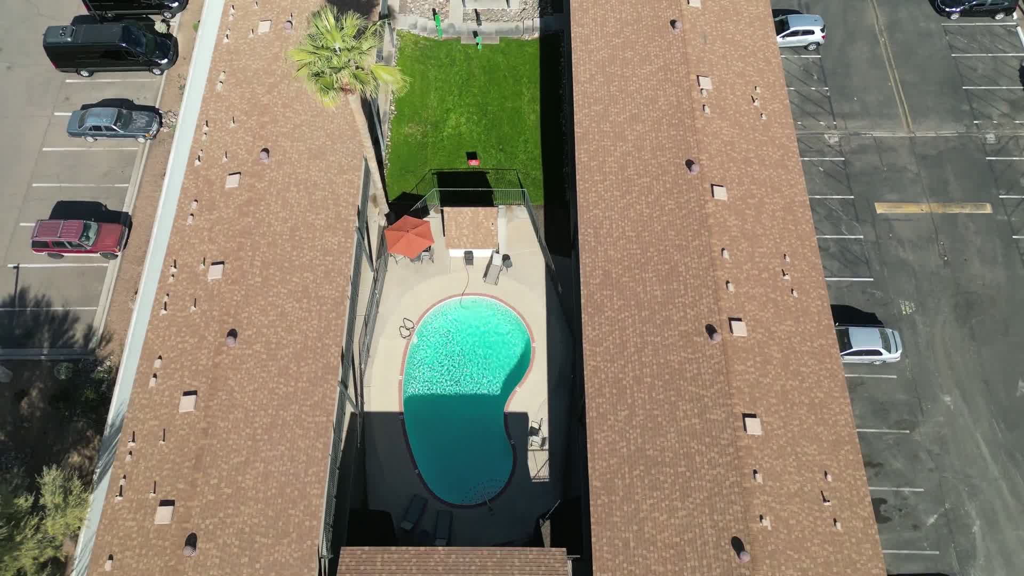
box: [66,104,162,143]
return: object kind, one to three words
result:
car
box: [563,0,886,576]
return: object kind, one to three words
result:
building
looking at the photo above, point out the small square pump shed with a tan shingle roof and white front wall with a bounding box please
[441,206,497,257]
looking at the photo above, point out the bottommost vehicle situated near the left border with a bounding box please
[26,216,128,259]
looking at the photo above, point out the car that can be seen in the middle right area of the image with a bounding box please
[835,321,904,365]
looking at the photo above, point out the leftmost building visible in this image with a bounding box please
[61,0,395,576]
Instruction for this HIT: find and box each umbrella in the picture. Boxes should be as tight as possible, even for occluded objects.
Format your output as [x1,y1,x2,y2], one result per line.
[385,216,434,261]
